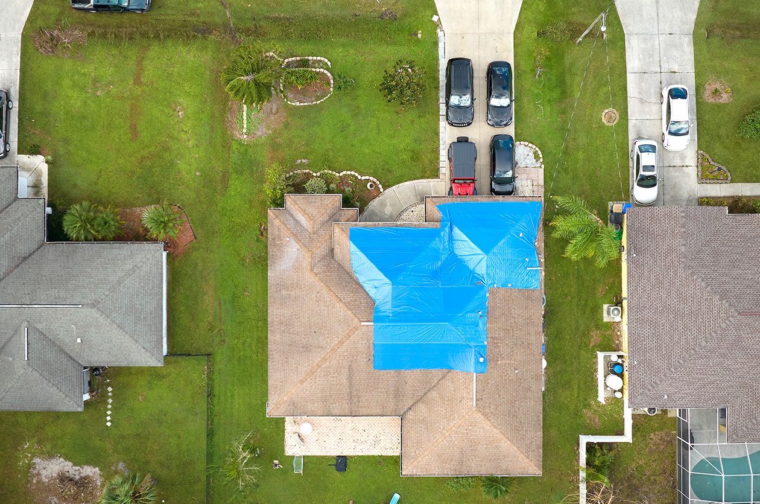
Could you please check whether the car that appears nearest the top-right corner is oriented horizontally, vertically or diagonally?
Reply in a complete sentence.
The car that appears nearest the top-right corner is laid out vertically.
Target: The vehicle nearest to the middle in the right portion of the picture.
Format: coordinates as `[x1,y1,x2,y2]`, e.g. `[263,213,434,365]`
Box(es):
[448,134,477,194]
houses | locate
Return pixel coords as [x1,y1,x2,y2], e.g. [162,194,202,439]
[266,191,544,478]
[620,205,760,443]
[0,164,170,411]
